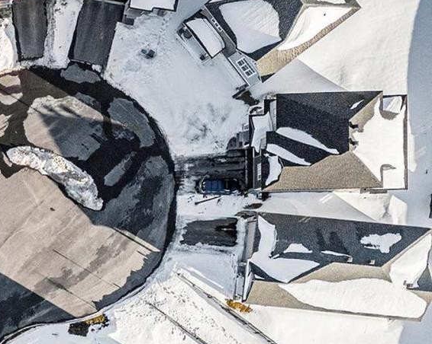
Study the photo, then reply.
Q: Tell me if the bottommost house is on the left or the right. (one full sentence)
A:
It is on the right.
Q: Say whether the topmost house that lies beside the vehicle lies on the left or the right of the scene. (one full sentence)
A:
The topmost house that lies beside the vehicle appears in the right half of the scene.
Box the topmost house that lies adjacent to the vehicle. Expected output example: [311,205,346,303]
[240,90,408,193]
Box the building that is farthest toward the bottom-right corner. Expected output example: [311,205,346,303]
[233,212,432,323]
